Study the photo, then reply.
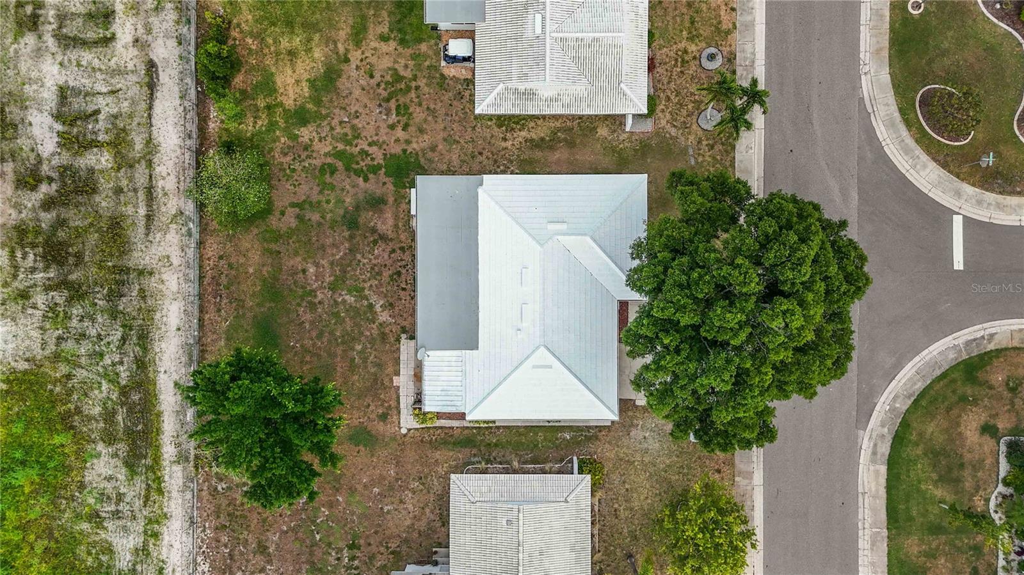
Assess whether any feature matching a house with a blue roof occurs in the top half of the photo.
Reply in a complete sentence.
No, no house with a blue roof appears in the top half of the photo.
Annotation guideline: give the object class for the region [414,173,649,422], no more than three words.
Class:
house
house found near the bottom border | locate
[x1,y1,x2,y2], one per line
[392,473,592,575]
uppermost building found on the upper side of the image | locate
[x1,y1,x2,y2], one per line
[424,0,649,115]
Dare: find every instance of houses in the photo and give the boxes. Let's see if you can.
[392,473,592,575]
[414,173,649,422]
[424,0,649,115]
